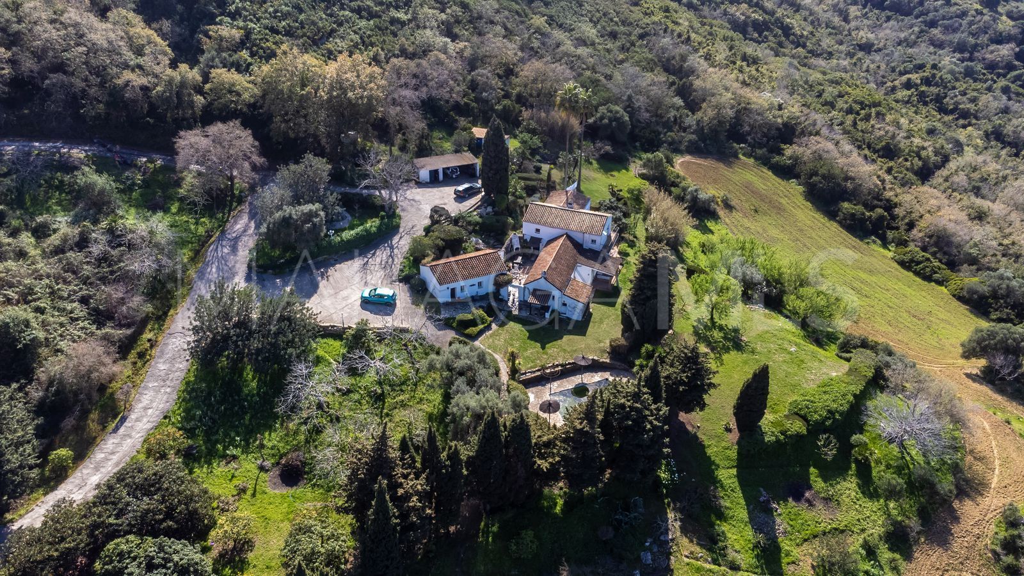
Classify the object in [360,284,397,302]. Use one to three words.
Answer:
car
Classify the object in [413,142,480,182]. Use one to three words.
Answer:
building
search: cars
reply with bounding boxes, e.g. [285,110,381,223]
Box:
[452,180,483,195]
[360,284,397,302]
